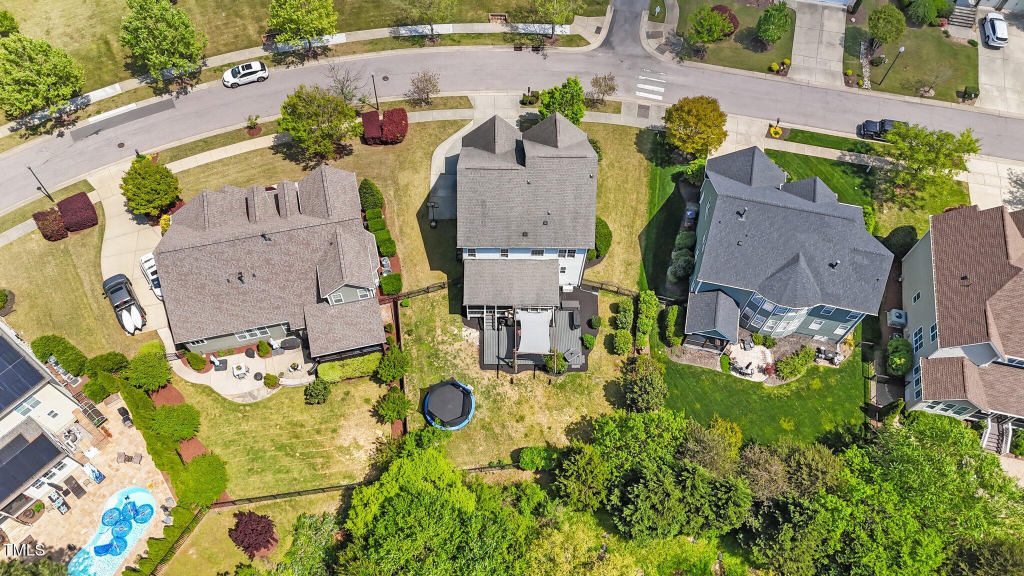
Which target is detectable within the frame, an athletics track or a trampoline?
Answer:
trampoline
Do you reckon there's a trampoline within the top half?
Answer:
No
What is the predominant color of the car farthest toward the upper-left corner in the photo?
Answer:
white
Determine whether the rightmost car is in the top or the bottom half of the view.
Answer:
top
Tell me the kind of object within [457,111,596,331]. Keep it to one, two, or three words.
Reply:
house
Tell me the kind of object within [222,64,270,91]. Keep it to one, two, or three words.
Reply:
car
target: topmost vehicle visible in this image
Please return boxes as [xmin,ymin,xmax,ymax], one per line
[982,16,1009,46]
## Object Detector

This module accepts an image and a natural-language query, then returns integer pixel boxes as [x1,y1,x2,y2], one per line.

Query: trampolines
[426,382,476,432]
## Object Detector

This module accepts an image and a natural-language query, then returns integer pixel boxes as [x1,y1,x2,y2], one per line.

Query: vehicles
[222,64,270,91]
[982,16,1009,46]
[101,274,147,335]
[859,119,911,146]
[140,252,166,302]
